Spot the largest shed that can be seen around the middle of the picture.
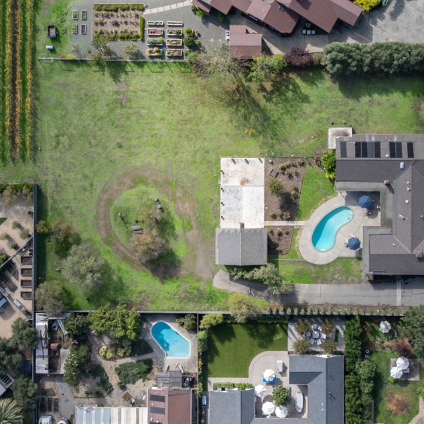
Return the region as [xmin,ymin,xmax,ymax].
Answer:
[216,226,267,266]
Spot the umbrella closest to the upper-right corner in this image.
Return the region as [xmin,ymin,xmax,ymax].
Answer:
[358,196,371,208]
